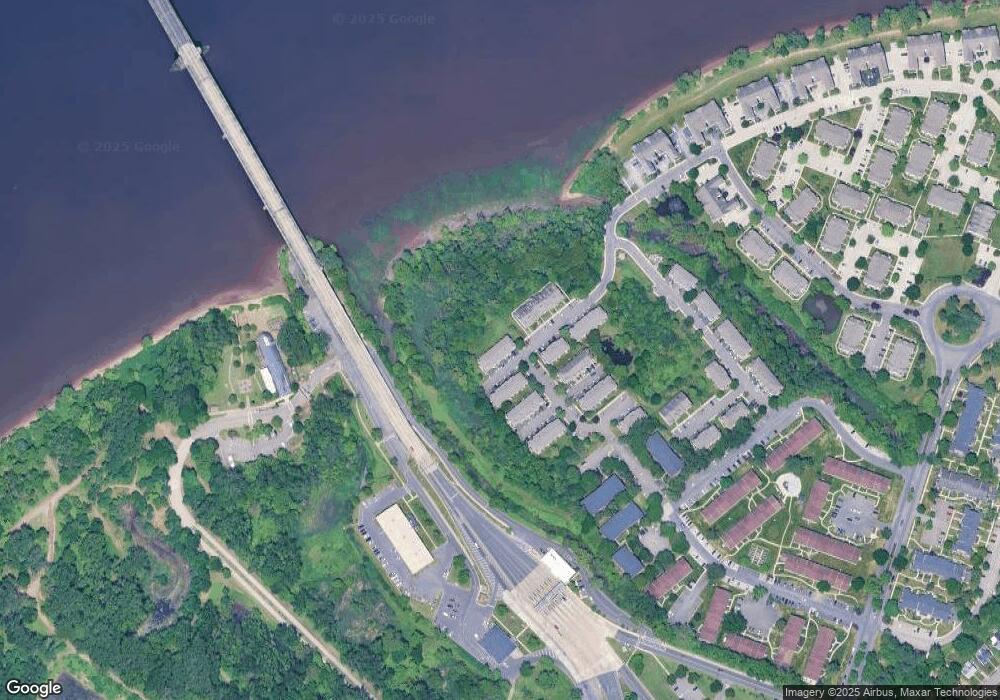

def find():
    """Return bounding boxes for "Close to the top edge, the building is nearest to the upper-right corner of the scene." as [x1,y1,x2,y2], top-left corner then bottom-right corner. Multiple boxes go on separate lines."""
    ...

[962,26,1000,67]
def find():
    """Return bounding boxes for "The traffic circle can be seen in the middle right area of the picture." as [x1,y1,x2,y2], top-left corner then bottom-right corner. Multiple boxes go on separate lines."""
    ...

[919,277,997,356]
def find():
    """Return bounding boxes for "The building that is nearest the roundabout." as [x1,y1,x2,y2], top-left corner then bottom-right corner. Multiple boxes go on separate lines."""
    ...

[883,334,918,379]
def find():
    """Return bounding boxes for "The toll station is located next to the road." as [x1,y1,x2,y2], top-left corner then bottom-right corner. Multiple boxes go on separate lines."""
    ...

[501,562,626,682]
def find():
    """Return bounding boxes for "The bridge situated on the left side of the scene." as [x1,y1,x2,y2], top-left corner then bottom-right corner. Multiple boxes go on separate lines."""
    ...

[149,0,441,474]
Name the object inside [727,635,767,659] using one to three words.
building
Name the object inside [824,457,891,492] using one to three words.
building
